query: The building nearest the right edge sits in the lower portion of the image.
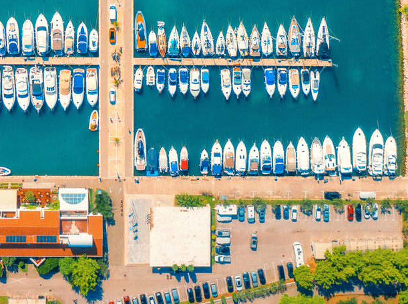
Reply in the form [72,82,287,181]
[149,204,210,267]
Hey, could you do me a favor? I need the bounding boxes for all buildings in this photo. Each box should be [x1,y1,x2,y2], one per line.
[149,204,210,267]
[0,180,103,256]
